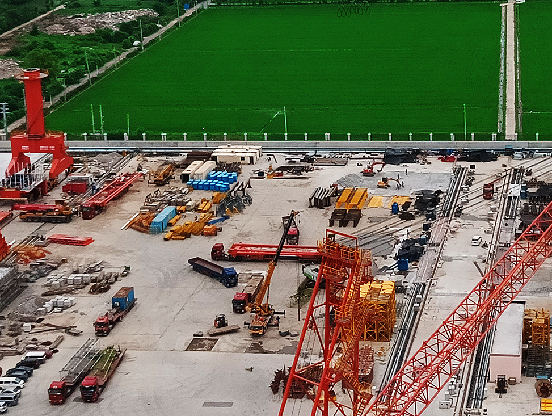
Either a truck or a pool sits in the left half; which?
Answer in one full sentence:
There is a truck in the left half.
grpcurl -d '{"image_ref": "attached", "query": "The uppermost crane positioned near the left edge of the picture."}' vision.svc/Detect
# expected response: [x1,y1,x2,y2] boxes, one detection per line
[0,70,78,184]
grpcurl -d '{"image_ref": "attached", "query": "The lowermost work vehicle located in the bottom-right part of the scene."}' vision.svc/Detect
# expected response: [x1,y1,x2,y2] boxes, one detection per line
[495,374,509,394]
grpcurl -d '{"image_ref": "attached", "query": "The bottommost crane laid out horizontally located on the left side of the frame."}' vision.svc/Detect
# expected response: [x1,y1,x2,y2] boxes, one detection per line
[12,205,71,222]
